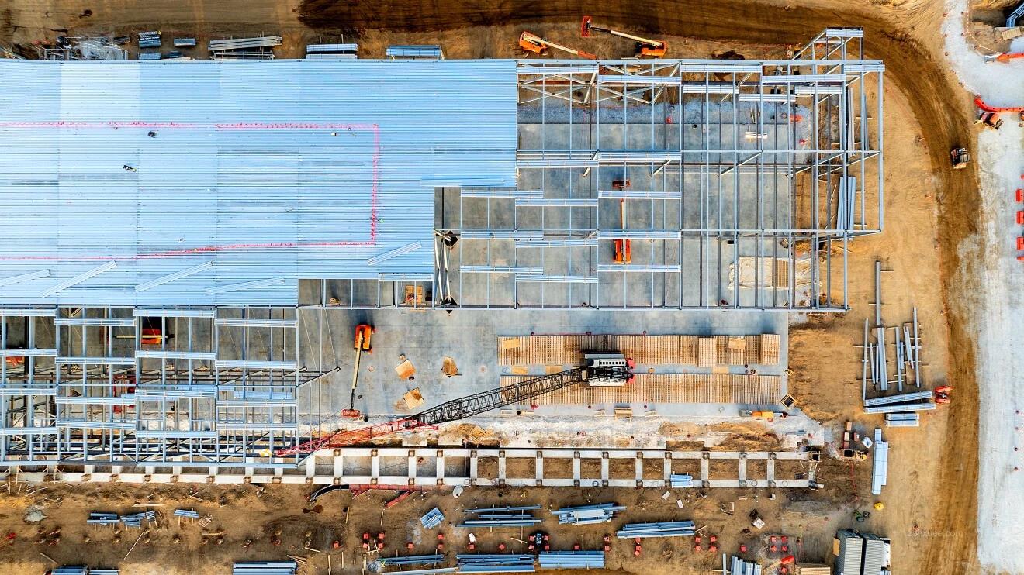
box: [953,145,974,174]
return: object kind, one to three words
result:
work vehicle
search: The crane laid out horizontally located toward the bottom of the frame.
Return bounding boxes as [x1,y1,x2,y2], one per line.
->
[274,353,635,454]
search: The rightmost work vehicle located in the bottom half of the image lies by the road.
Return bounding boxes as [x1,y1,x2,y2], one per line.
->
[933,386,953,402]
